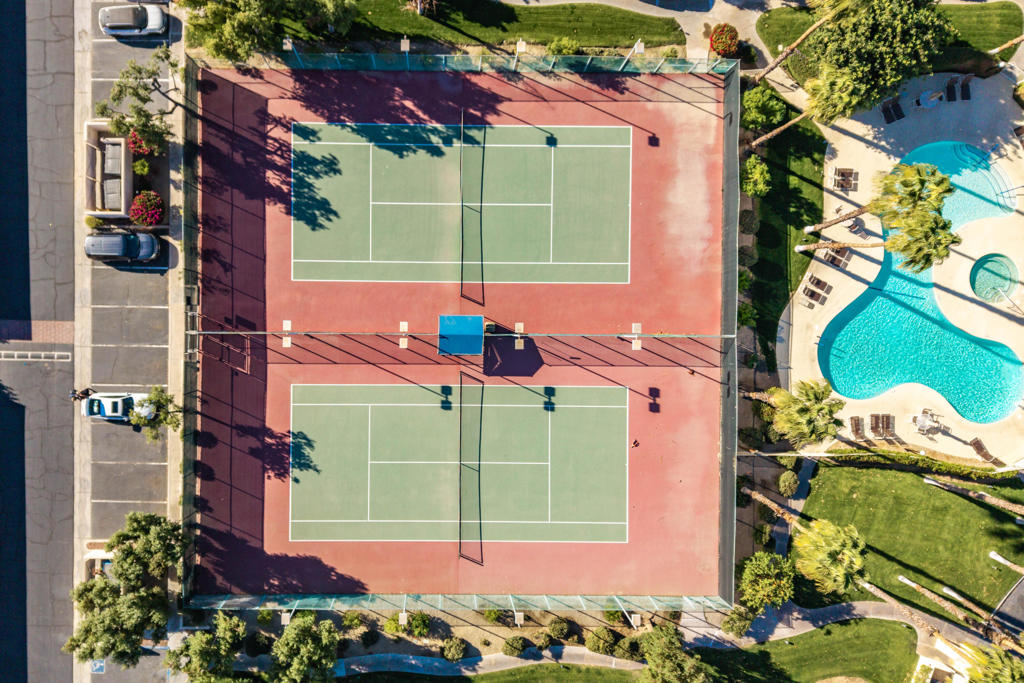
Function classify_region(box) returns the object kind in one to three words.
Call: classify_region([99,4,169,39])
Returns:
car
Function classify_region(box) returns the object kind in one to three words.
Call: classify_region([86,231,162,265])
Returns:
car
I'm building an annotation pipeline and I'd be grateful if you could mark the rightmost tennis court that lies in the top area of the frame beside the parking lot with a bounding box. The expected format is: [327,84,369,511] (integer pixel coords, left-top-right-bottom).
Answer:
[198,68,725,335]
